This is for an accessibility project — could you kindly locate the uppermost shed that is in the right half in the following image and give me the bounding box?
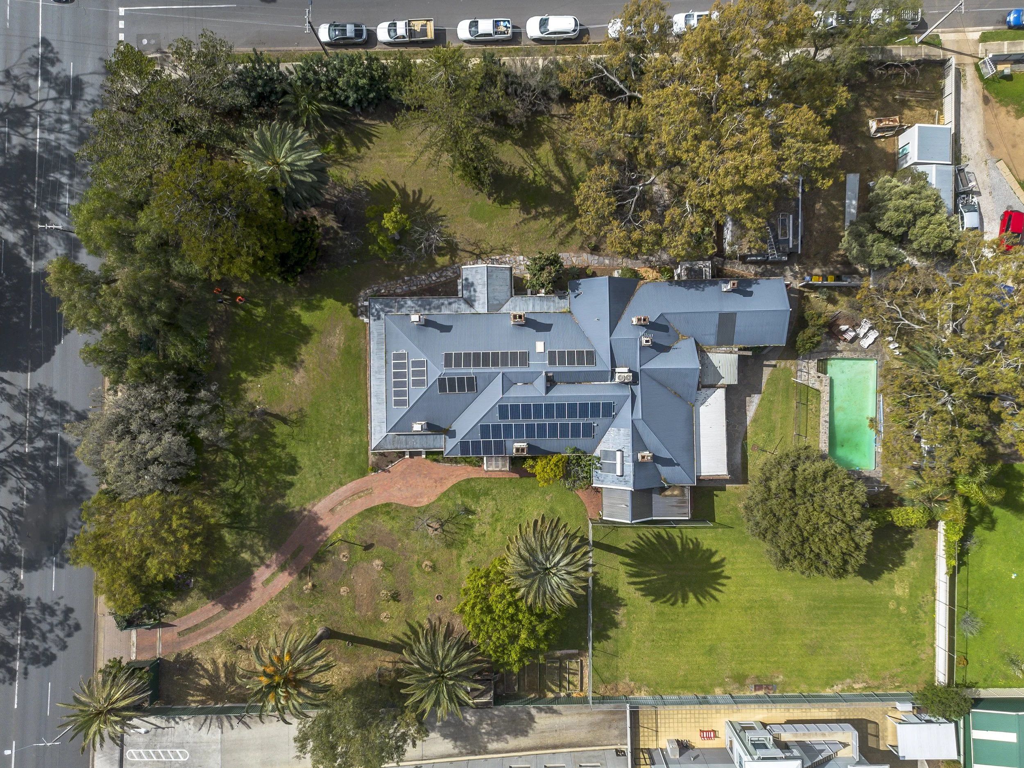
[898,123,954,172]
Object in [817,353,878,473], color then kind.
green swimming pool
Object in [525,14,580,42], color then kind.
white car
